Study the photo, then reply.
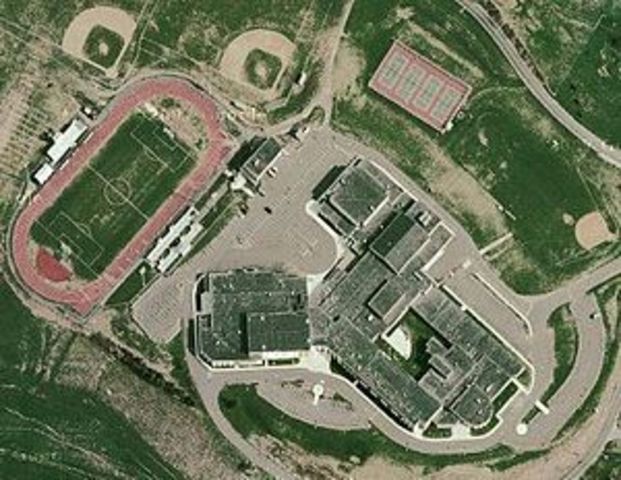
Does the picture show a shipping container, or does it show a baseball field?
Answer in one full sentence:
I can see a baseball field in this picture.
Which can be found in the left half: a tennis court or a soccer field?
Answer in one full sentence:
It is a soccer field that can be seen in the left half.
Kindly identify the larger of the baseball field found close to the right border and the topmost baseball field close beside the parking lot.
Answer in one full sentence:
It is the topmost baseball field close beside the parking lot that is larger, not the baseball field found close to the right border.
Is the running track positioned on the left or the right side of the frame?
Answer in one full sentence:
The running track appears in the left half of the scene.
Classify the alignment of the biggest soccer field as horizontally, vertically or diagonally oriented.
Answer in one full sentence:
Seen from above, the biggest soccer field lies diagonally.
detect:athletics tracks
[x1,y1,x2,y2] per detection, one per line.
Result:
[12,78,233,319]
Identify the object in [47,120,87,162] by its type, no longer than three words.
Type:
building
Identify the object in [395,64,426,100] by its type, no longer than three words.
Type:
tennis court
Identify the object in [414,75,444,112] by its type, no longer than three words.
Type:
tennis court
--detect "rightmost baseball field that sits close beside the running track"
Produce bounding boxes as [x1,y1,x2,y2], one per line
[221,30,297,103]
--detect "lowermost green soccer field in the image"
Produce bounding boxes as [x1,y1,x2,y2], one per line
[37,103,201,279]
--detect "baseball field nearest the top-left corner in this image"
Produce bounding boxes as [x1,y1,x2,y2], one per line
[62,8,138,81]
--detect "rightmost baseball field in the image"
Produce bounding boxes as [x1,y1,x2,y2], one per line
[564,211,619,250]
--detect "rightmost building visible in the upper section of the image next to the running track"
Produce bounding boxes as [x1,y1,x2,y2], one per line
[241,138,287,183]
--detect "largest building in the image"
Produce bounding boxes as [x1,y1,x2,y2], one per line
[193,157,525,434]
